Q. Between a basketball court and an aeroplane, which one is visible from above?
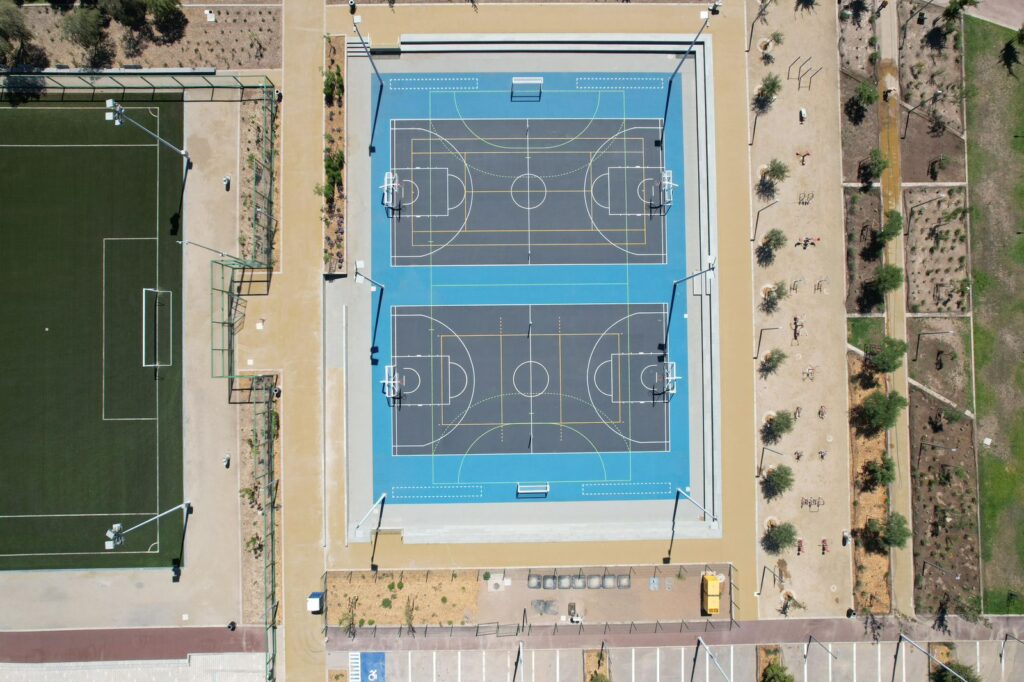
basketball court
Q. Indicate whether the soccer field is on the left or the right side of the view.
left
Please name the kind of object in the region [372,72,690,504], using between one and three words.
sports court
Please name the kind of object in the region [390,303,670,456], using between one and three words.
basketball court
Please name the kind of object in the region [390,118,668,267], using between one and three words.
basketball court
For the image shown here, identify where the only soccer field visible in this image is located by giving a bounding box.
[0,92,183,569]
